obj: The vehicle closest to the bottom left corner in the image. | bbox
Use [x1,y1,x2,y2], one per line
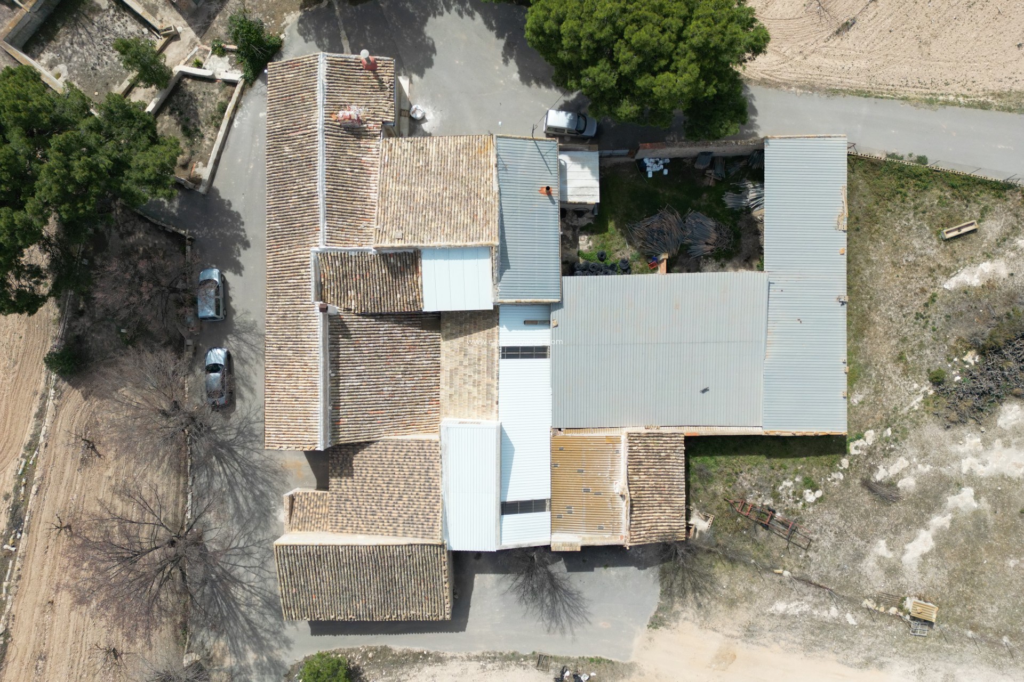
[203,347,235,409]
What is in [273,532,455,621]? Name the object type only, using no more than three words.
barn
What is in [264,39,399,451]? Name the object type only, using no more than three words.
house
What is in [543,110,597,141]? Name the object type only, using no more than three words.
vehicle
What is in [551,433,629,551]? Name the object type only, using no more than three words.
shed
